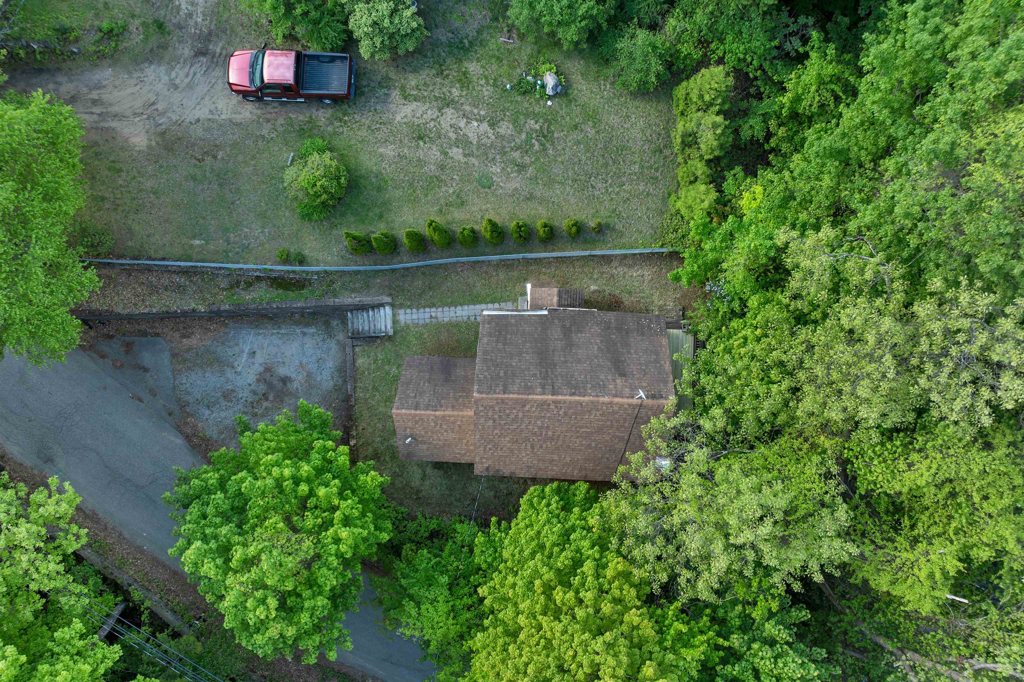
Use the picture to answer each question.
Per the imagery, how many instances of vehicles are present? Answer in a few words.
1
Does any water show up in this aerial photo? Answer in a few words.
No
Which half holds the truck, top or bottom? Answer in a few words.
top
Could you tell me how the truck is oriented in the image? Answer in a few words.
horizontally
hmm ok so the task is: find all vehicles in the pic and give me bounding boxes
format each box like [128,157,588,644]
[225,38,356,101]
